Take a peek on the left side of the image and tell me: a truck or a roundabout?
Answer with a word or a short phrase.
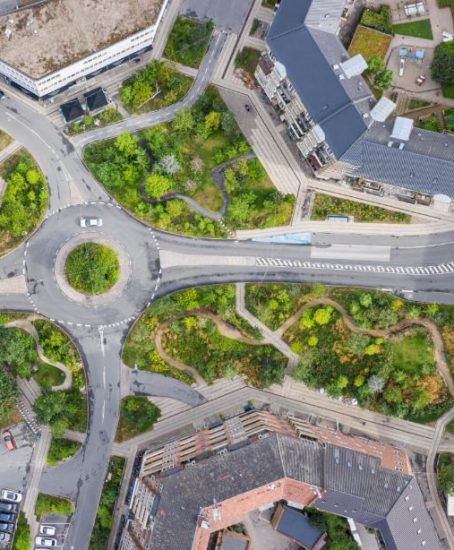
roundabout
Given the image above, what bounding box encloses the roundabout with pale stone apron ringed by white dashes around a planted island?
[23,202,161,327]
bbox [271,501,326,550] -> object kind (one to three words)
building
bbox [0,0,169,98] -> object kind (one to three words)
building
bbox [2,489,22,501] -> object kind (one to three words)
vehicle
